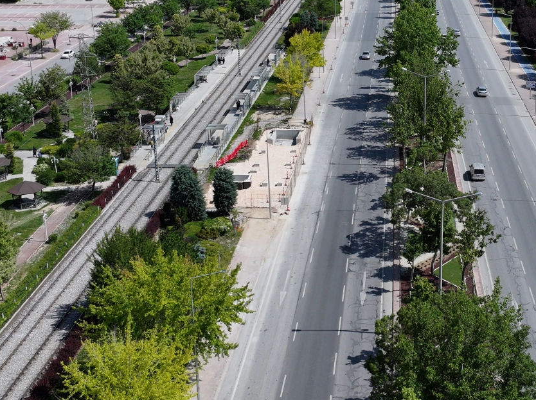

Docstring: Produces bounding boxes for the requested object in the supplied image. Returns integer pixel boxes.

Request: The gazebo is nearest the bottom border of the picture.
[1,175,48,209]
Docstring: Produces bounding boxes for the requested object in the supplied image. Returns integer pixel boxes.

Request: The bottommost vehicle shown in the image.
[466,158,487,182]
